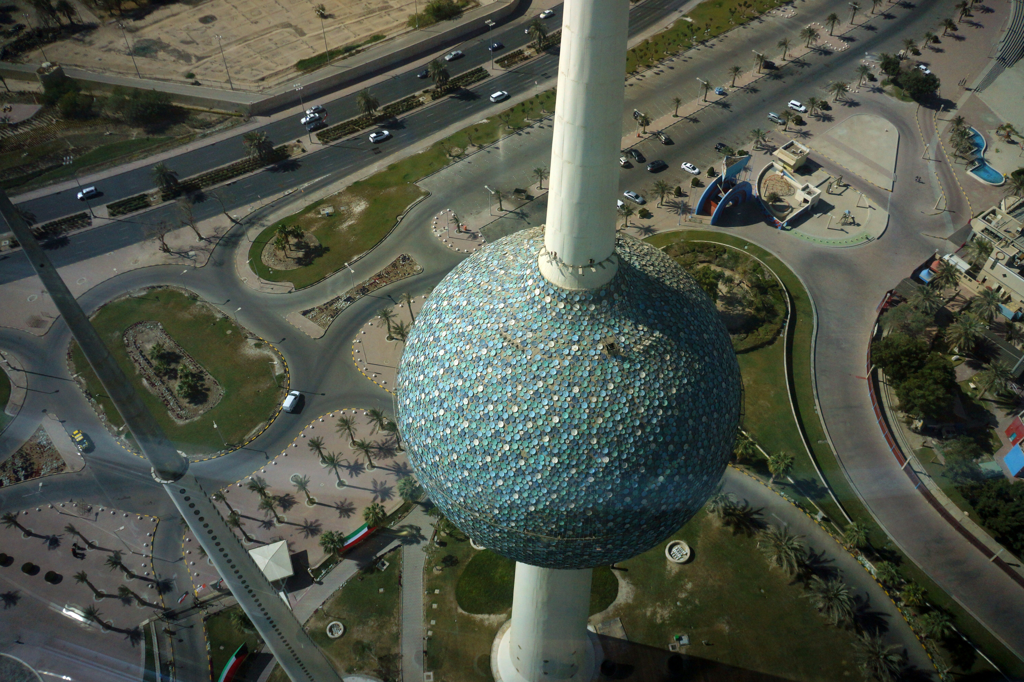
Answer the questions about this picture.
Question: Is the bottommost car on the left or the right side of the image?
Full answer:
The bottommost car is on the left side of the image.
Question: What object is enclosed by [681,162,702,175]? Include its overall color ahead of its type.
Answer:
white vehicle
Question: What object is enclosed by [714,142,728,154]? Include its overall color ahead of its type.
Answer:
black vehicle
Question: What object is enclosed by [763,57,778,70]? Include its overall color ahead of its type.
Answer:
black vehicle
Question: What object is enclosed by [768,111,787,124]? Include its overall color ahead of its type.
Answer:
gray vehicle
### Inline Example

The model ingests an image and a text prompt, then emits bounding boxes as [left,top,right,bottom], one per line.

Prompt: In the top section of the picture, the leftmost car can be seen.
[78,187,98,199]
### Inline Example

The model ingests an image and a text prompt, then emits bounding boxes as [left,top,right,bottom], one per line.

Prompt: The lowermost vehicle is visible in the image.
[67,425,90,451]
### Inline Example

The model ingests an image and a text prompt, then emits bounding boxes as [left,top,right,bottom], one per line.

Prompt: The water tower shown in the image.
[389,0,748,682]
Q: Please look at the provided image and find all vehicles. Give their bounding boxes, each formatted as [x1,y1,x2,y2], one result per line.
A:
[283,390,300,410]
[308,121,326,132]
[647,160,667,171]
[763,57,778,70]
[540,9,554,18]
[524,24,538,33]
[446,50,462,59]
[301,113,320,124]
[416,68,433,78]
[306,105,323,114]
[490,91,509,102]
[714,142,728,154]
[489,42,504,50]
[657,131,673,145]
[624,192,645,204]
[768,111,787,124]
[615,198,625,208]
[945,250,978,271]
[78,187,98,199]
[681,162,702,175]
[67,425,90,451]
[790,100,807,111]
[632,107,643,121]
[369,130,390,142]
